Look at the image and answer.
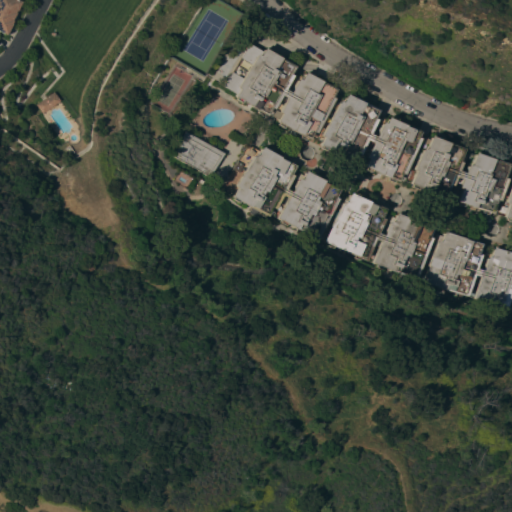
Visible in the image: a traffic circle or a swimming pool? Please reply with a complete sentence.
The one in the frame is a swimming pool.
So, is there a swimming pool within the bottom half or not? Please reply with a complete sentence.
No, looking within the bottom half, there is no swimming pool.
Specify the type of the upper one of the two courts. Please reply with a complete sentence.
It looks like the upper one of the two courts is a tennis court.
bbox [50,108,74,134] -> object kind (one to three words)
swimming pool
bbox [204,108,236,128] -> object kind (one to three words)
swimming pool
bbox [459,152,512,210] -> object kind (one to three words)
house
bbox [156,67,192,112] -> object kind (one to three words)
sports court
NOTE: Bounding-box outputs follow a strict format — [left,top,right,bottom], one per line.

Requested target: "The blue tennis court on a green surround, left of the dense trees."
[174,0,242,75]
